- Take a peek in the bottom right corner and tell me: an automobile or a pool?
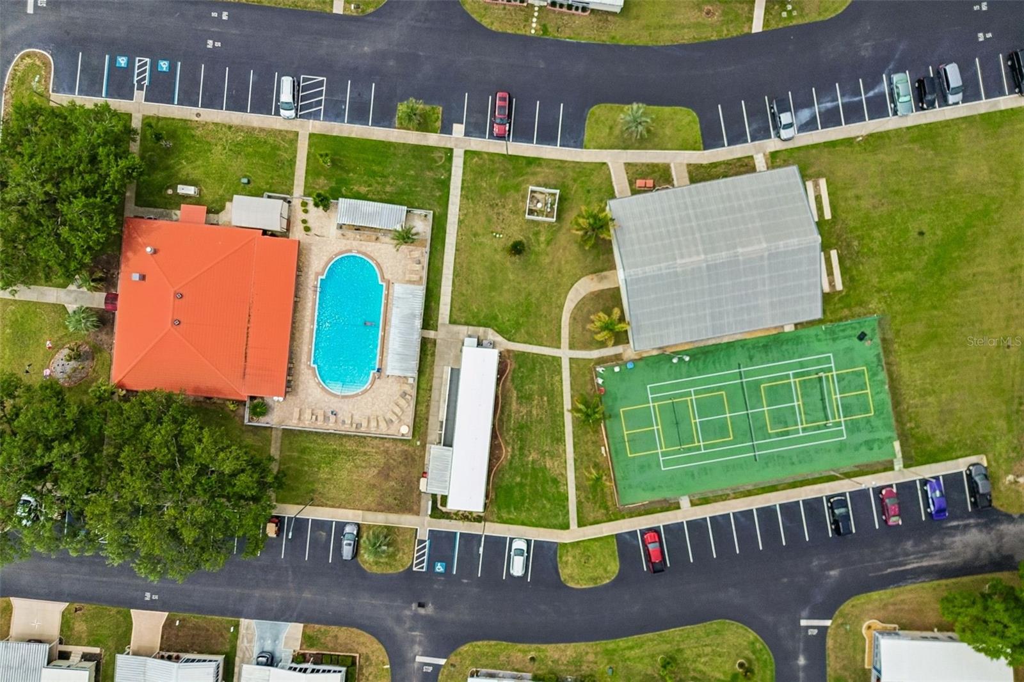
automobile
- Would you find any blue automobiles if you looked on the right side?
Yes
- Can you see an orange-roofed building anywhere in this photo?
Yes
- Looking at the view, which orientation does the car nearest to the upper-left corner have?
from top to bottom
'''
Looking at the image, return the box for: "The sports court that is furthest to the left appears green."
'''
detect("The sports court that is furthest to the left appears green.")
[595,317,896,506]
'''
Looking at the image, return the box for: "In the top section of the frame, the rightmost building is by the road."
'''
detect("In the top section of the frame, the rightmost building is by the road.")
[605,165,823,352]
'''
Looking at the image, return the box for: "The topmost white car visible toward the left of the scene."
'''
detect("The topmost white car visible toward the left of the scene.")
[277,76,297,119]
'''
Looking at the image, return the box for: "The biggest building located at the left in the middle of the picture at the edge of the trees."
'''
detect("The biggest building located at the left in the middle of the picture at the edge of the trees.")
[91,205,303,401]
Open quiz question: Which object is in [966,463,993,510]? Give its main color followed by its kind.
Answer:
gray truck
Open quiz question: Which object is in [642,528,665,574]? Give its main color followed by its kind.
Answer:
red truck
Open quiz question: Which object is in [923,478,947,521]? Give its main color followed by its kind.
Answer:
blue car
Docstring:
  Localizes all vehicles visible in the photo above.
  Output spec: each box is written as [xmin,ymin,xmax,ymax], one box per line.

[915,75,938,111]
[827,494,852,537]
[254,647,273,669]
[772,98,795,142]
[510,537,528,578]
[879,487,901,527]
[966,463,993,510]
[938,62,963,105]
[491,93,510,138]
[266,516,282,539]
[277,76,297,119]
[642,528,665,574]
[1005,47,1024,97]
[889,72,914,116]
[418,471,428,494]
[923,478,947,521]
[341,522,360,561]
[27,639,43,645]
